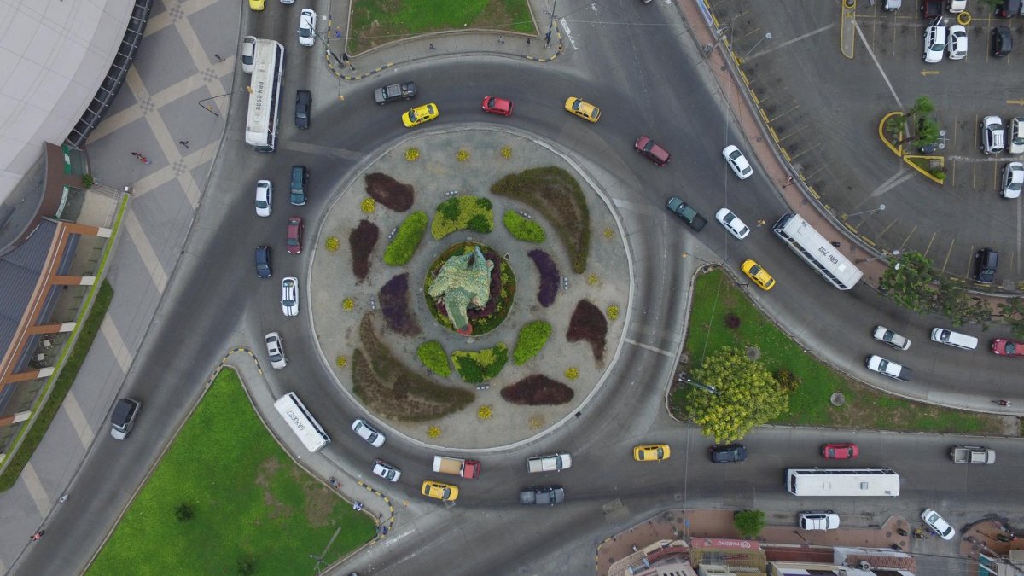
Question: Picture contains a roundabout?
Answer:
Yes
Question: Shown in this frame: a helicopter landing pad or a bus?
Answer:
bus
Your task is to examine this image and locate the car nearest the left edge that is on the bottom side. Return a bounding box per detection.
[110,395,142,442]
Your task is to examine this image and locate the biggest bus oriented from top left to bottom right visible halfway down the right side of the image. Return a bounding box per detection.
[766,208,861,289]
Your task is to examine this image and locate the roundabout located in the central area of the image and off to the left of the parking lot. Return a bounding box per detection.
[309,126,634,451]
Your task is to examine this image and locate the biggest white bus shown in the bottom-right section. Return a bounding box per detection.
[780,467,895,496]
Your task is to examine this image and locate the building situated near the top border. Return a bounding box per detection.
[0,0,166,209]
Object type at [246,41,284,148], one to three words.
bus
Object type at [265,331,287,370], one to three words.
car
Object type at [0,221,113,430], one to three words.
building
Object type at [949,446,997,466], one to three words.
vehicle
